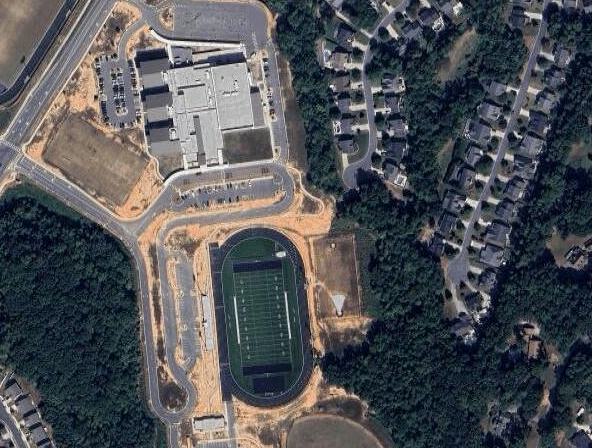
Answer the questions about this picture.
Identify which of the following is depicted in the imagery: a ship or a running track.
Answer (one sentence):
I can see a running track in this picture.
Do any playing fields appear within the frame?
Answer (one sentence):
Yes, you can see a playing field in this photo.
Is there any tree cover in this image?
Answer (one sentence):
Yes, the picture does contain tree cover.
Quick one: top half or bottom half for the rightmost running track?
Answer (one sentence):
You can find the rightmost running track in the bottom half.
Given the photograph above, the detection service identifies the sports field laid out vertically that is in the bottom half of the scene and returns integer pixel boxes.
[222,237,304,398]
